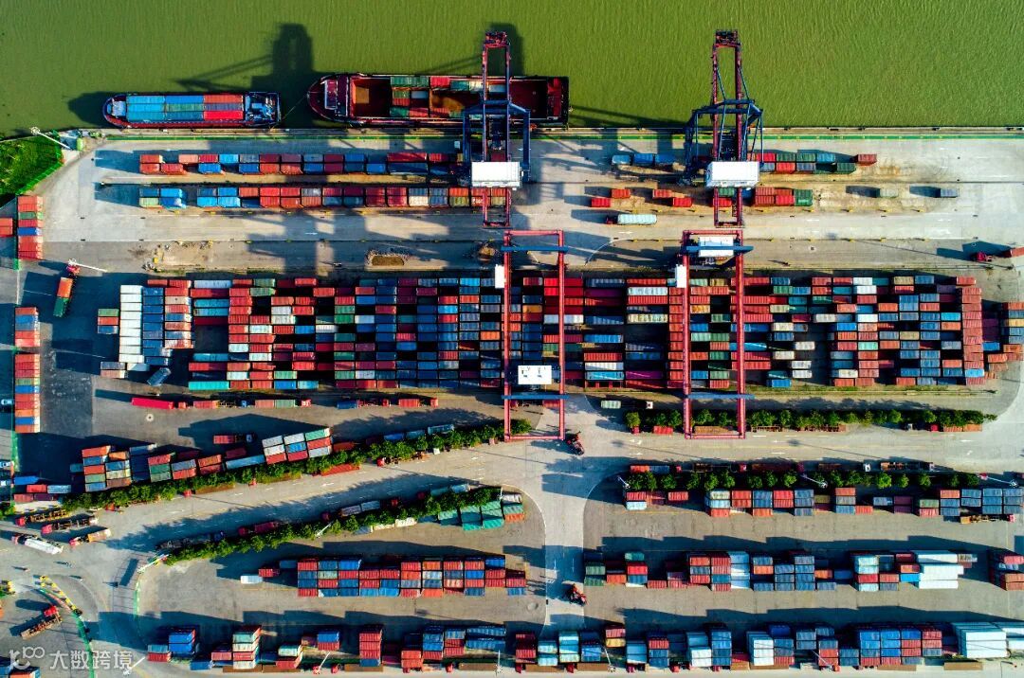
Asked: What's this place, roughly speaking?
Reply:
port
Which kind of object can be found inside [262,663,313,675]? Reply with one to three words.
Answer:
vehicle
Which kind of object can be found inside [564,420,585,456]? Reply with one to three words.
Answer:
work vehicle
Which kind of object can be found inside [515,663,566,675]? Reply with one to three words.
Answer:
vehicle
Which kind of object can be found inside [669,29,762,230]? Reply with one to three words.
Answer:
container crane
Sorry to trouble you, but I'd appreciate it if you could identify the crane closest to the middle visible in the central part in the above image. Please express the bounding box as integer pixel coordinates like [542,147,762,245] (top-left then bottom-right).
[492,230,571,439]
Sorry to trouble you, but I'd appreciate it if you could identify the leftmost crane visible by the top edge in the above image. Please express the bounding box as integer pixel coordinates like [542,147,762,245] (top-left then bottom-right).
[459,29,537,231]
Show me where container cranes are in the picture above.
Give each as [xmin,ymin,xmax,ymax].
[459,29,537,231]
[492,230,571,439]
[663,230,759,439]
[669,29,762,230]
